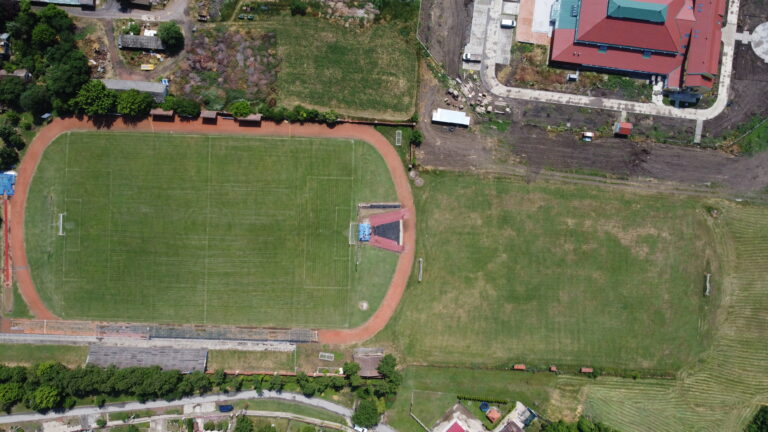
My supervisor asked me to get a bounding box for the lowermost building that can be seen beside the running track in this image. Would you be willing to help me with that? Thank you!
[352,346,385,376]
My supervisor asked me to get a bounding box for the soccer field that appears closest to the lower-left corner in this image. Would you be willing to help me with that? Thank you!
[25,130,400,330]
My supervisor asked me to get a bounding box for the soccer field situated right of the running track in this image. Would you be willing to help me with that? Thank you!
[395,176,718,364]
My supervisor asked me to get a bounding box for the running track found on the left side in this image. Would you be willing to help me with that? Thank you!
[11,118,416,345]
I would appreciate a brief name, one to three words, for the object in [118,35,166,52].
barn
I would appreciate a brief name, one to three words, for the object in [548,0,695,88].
building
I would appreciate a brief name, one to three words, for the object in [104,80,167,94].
shed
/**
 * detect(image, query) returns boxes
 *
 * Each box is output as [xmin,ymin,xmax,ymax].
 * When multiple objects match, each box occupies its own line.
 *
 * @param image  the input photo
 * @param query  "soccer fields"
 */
[25,130,400,330]
[395,176,718,364]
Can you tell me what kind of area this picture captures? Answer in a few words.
sports ground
